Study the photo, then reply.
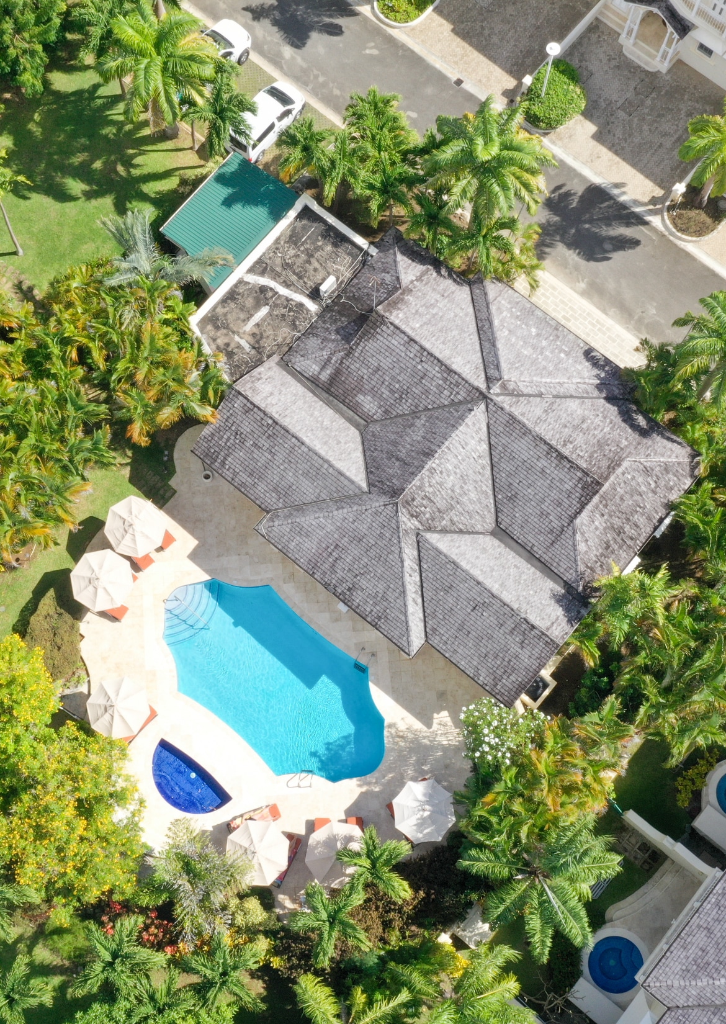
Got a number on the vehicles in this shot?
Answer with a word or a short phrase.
2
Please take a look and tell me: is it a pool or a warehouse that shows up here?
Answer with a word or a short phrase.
pool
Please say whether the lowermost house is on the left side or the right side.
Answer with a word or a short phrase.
right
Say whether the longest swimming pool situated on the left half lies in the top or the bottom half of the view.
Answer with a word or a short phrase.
bottom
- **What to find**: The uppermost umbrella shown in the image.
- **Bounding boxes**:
[106,497,165,556]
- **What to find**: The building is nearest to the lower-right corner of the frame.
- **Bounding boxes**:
[596,841,726,1024]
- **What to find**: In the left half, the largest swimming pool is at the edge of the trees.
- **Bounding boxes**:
[155,571,392,792]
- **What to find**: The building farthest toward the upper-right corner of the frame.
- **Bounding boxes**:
[589,0,726,91]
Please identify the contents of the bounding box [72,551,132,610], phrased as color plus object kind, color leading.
white umbrella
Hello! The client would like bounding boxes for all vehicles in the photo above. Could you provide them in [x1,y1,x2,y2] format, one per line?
[177,20,250,92]
[227,79,304,155]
